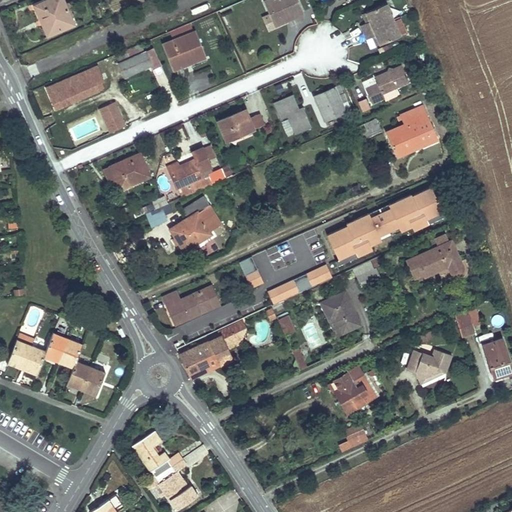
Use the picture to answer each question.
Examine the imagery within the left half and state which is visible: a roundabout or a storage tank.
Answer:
roundabout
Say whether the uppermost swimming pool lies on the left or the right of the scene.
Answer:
left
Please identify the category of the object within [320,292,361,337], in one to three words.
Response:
house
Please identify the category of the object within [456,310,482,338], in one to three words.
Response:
building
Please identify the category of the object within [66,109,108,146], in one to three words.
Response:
swimming pool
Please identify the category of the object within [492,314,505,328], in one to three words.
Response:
swimming pool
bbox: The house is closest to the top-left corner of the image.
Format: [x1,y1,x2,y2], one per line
[28,0,78,38]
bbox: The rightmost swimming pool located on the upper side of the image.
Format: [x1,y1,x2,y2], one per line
[157,173,171,192]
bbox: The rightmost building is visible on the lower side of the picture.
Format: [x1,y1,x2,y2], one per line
[482,339,512,381]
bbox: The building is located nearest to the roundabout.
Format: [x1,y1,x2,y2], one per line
[179,319,250,376]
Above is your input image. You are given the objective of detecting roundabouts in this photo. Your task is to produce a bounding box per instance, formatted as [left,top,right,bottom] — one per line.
[132,348,185,399]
